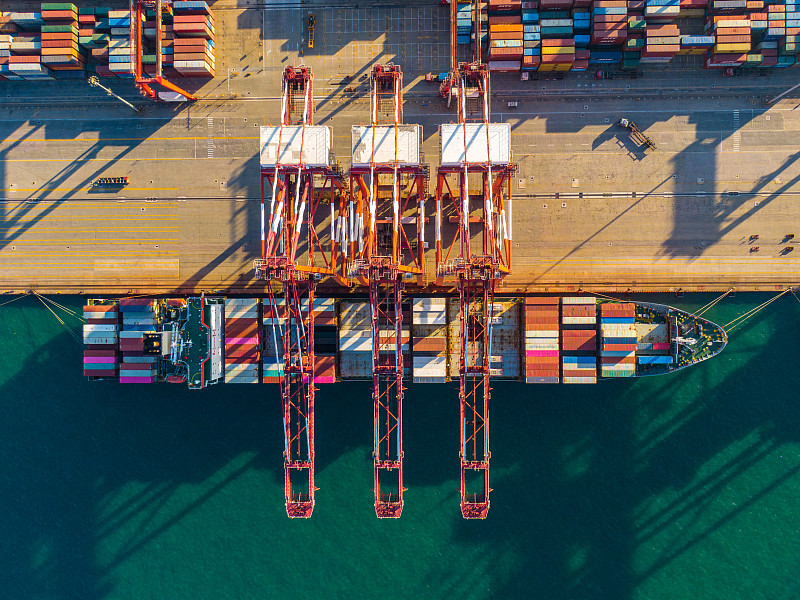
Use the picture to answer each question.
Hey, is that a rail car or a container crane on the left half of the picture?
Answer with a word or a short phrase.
container crane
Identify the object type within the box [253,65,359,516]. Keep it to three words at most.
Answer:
container crane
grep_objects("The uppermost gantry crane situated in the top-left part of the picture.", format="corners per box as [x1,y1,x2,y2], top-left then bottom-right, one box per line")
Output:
[129,0,204,106]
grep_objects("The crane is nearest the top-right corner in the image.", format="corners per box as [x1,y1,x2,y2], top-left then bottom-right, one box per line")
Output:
[432,0,488,102]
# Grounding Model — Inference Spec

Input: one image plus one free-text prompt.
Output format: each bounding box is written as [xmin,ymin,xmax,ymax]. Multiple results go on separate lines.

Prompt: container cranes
[432,0,488,102]
[129,0,204,106]
[346,63,434,517]
[253,65,359,516]
[423,62,522,517]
